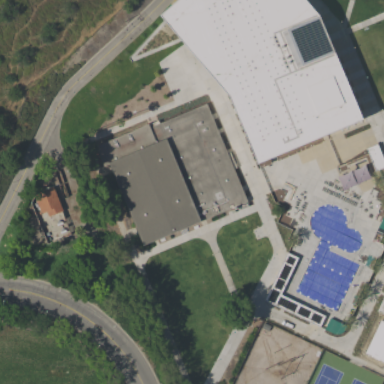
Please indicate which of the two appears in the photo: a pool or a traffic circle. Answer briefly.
pool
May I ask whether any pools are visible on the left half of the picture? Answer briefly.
No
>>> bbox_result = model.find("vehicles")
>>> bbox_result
[46,231,52,240]
[284,321,295,328]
